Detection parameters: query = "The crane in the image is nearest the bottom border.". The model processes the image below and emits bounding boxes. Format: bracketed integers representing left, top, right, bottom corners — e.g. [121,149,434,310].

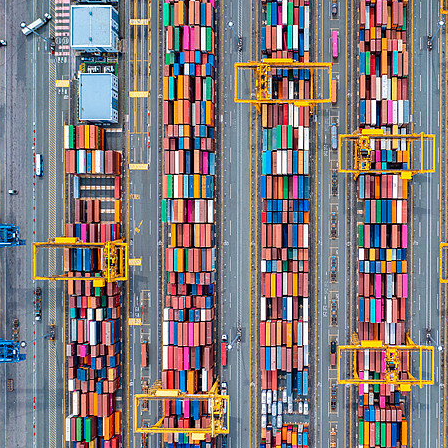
[134,377,229,442]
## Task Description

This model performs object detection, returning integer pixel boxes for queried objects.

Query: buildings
[71,5,118,52]
[79,73,119,125]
